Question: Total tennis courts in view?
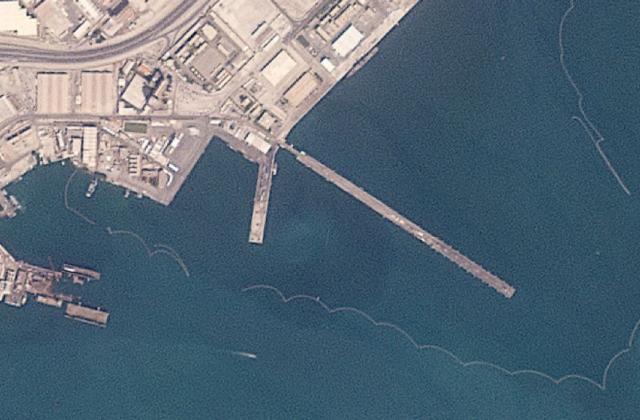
0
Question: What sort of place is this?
port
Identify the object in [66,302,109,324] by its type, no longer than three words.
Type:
pier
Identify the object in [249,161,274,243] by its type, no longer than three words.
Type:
pier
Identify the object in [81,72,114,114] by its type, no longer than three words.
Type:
building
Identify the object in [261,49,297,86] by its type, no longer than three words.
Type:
building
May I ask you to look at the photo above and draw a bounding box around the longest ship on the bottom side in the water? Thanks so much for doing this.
[64,264,101,279]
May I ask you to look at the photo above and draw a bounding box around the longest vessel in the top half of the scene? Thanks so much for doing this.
[347,48,378,78]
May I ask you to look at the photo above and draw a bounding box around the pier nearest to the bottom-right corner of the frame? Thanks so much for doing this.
[296,154,516,299]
